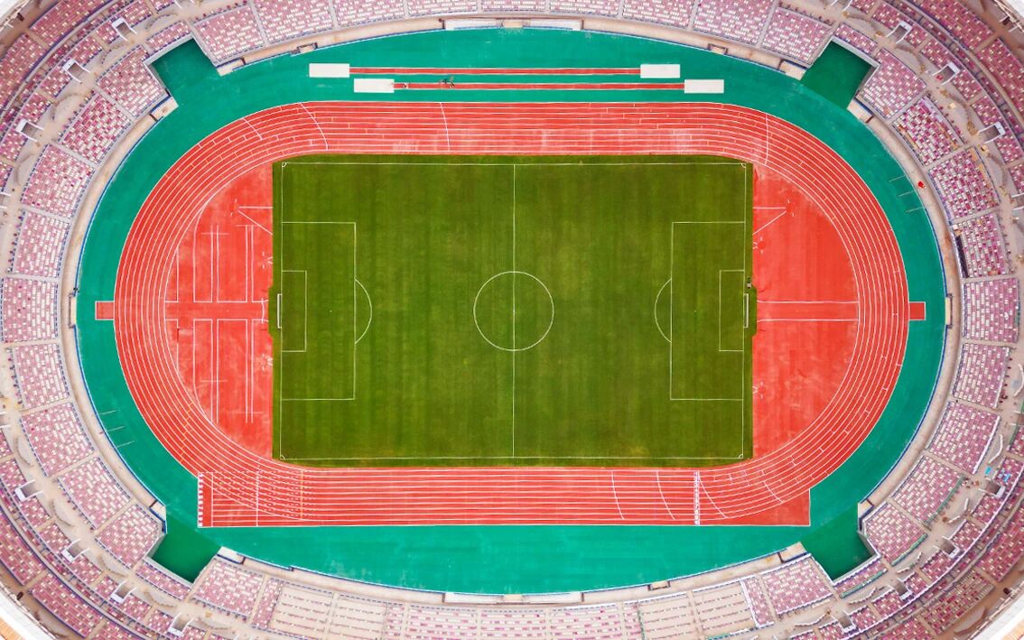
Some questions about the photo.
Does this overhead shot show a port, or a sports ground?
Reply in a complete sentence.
This looks like a sports ground.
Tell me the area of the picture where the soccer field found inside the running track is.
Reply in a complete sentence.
You can find the soccer field found inside the running track in the center area of the picture.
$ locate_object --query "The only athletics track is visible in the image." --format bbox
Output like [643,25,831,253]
[115,101,909,527]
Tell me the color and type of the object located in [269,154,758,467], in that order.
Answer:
green soccer field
